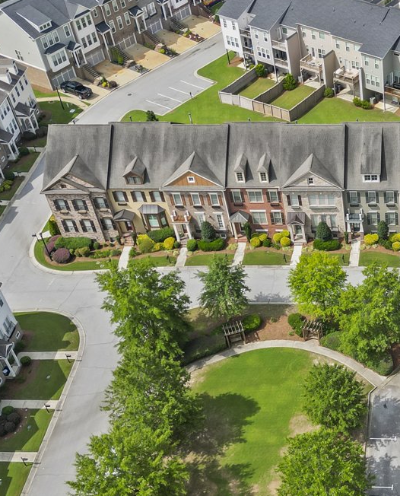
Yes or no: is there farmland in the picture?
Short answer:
No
